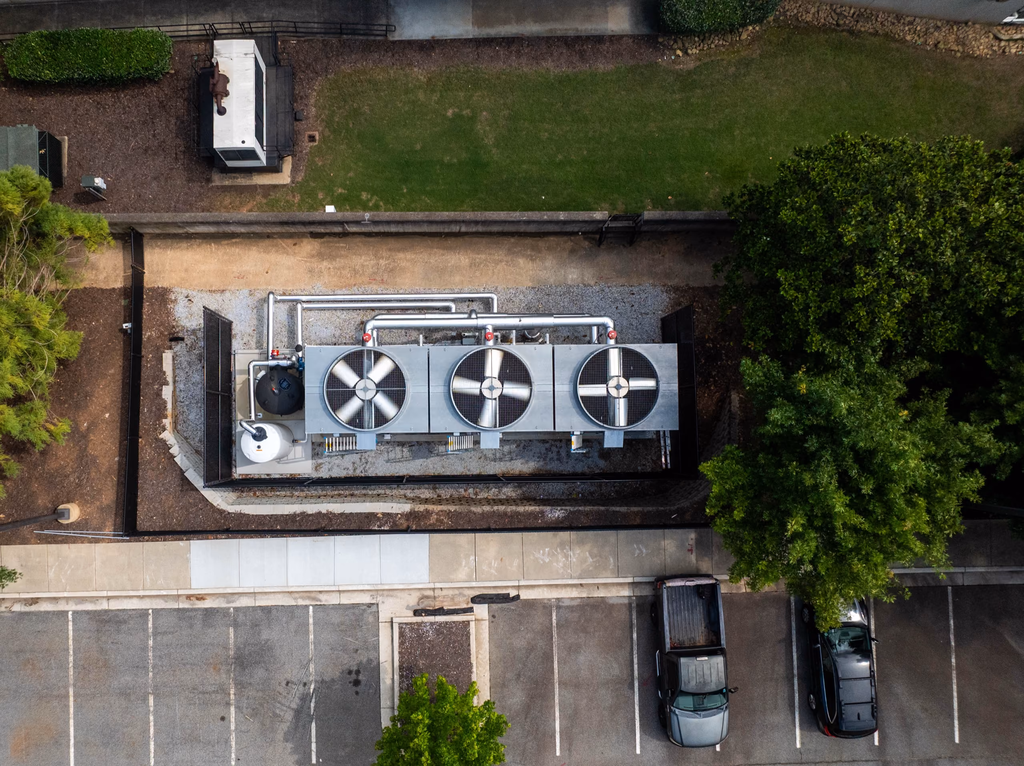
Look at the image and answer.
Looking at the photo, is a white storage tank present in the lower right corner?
No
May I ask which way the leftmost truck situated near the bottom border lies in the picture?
up and down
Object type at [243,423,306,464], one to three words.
storage tank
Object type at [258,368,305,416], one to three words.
storage tank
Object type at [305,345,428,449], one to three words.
cooling tower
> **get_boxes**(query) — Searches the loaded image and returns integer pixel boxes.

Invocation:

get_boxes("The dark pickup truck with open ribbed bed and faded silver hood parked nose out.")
[648,567,738,747]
